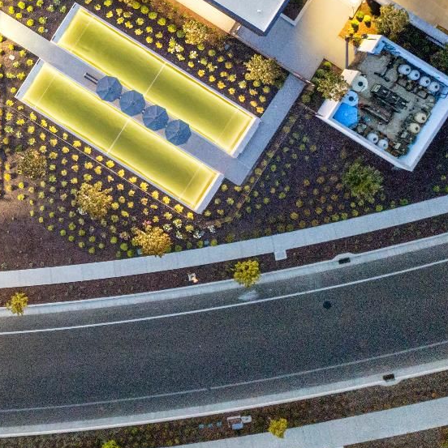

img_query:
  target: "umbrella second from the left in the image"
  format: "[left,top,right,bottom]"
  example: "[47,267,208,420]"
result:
[120,90,145,115]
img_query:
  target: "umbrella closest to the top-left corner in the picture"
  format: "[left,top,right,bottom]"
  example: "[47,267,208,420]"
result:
[96,76,121,101]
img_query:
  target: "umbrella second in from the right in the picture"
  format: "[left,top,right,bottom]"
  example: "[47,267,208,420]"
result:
[141,105,168,130]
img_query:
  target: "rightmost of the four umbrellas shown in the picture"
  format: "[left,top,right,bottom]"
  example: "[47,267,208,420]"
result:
[165,120,190,144]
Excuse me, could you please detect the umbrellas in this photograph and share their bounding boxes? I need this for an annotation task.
[141,105,168,130]
[120,90,145,115]
[96,76,121,101]
[165,120,190,144]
